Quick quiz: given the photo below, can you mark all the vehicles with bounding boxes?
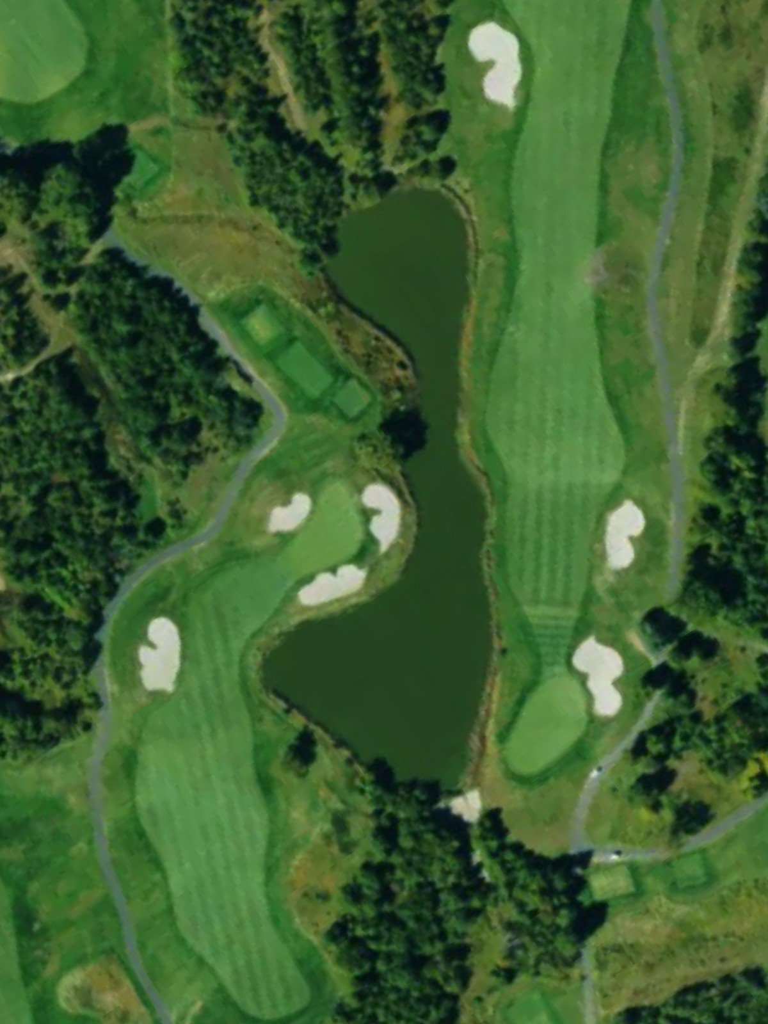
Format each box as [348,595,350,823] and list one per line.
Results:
[610,854,619,859]
[591,769,598,778]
